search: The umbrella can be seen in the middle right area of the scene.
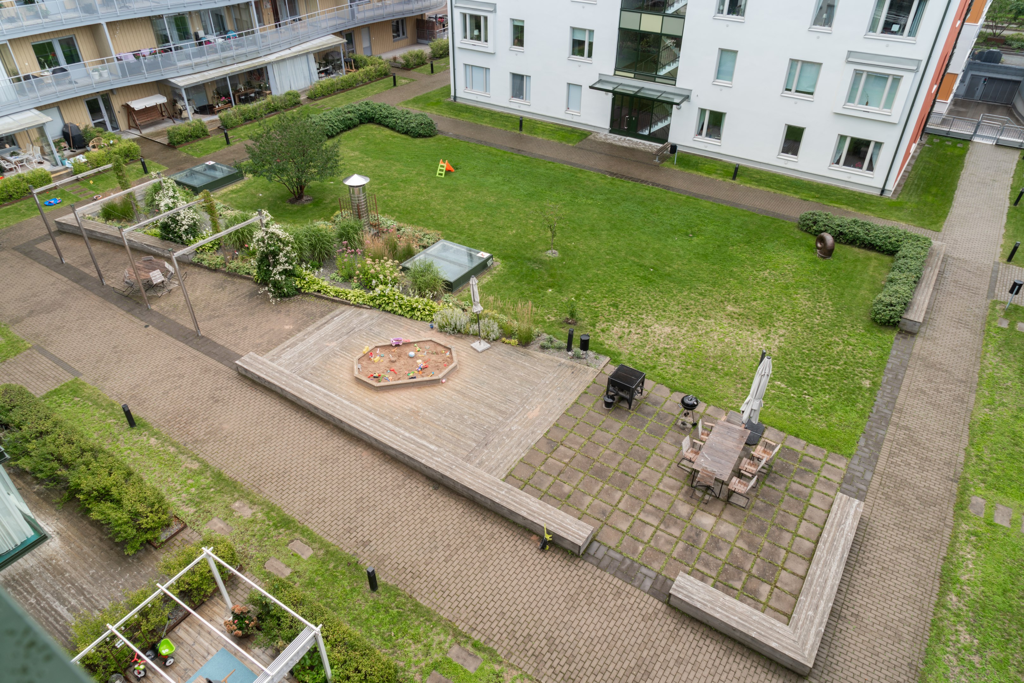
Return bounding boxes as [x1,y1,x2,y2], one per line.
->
[736,345,774,445]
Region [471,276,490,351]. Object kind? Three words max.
umbrella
